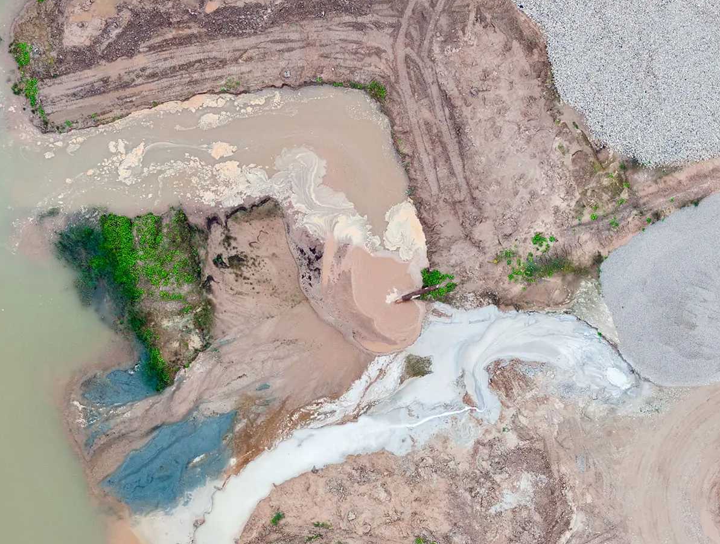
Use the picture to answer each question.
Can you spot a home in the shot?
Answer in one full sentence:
No, there is no home in the image.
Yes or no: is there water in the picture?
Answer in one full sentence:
Yes, water shows up in the scene.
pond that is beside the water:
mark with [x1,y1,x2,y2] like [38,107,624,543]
[33,83,429,353]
